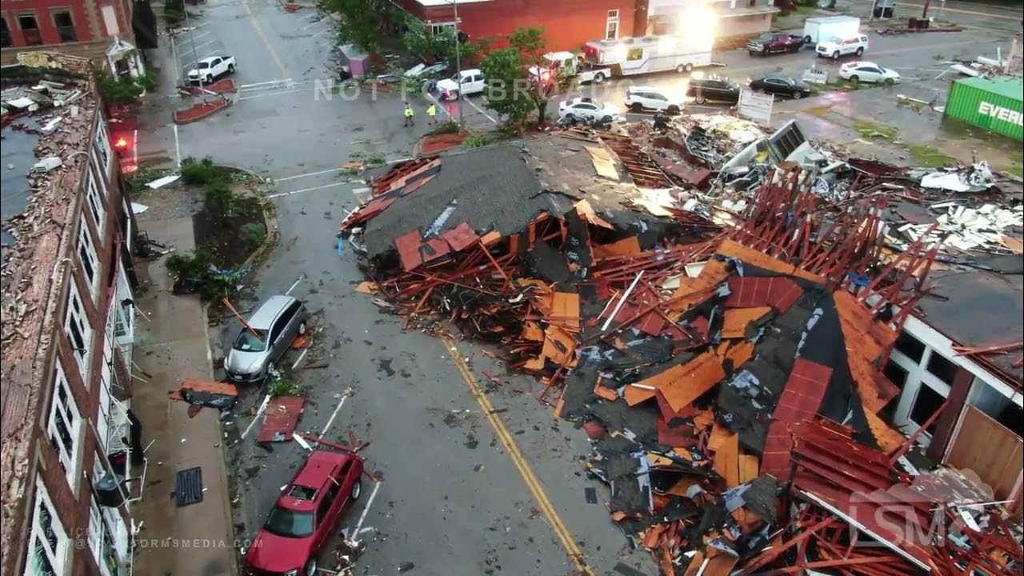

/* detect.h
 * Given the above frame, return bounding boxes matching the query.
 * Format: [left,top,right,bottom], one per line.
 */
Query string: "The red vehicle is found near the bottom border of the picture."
[241,435,367,576]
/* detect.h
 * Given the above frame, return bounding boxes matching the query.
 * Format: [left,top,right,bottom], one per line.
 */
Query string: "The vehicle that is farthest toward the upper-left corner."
[182,54,236,83]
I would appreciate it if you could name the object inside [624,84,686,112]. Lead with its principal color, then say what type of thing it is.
white car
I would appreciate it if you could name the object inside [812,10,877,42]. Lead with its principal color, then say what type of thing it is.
white trailer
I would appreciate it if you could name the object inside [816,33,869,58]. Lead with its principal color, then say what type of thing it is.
white car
